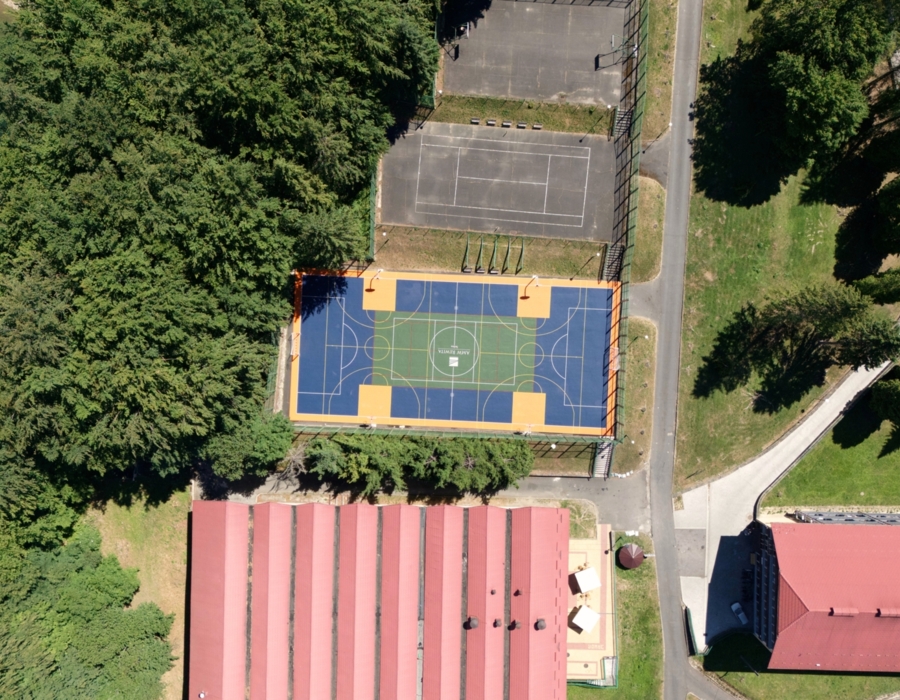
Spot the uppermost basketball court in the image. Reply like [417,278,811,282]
[444,0,626,106]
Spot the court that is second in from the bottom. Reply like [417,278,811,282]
[379,120,616,241]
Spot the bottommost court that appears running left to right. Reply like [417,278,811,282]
[290,272,621,437]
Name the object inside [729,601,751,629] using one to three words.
car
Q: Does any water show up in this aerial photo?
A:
No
